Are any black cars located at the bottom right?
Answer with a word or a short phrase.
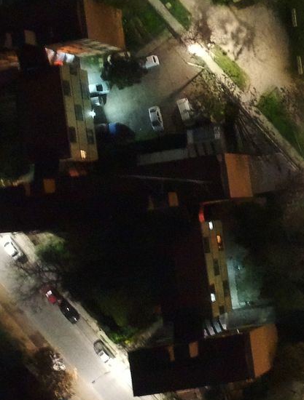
No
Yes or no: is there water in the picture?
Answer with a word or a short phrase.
No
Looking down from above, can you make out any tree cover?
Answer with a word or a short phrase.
Yes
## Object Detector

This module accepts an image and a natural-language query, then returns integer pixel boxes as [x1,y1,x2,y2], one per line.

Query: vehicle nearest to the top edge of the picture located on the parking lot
[135,53,163,69]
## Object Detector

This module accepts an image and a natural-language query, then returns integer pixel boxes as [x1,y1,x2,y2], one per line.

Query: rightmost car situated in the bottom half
[88,338,114,365]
